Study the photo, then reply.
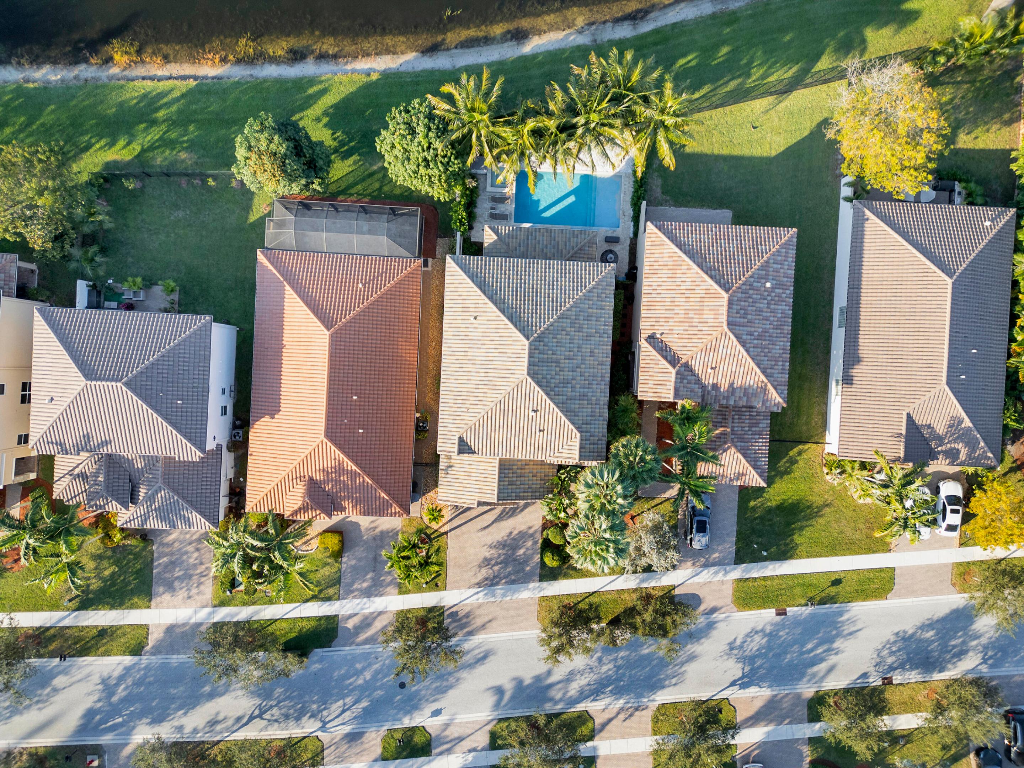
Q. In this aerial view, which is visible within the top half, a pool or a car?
pool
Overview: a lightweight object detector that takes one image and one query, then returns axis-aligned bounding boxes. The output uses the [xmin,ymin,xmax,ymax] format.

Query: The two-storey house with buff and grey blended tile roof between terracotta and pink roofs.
[437,224,617,508]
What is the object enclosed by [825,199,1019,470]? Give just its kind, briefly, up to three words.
house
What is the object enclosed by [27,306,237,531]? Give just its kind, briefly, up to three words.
house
